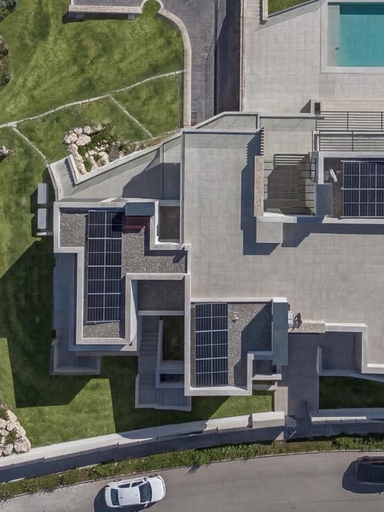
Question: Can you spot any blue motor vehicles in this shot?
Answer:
No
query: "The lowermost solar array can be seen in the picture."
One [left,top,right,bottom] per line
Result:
[194,302,230,386]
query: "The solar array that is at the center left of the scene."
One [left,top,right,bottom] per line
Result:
[86,208,124,323]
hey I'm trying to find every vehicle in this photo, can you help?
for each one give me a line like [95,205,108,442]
[354,452,384,484]
[104,472,167,507]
